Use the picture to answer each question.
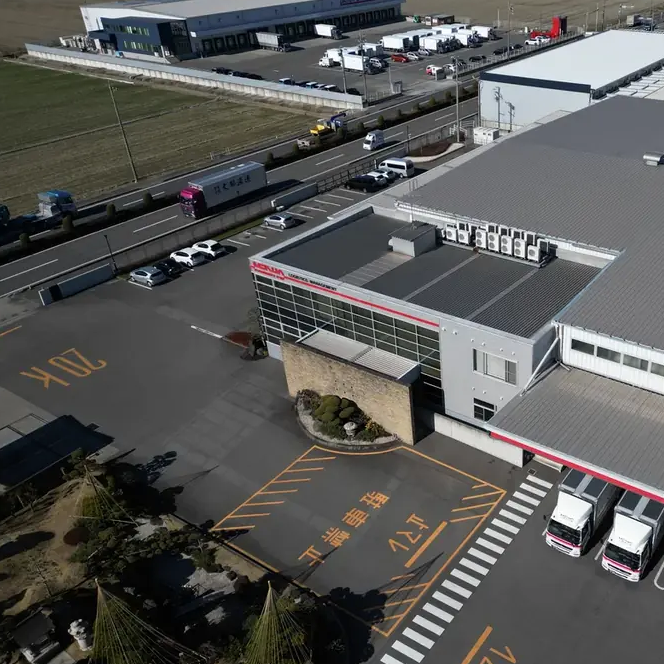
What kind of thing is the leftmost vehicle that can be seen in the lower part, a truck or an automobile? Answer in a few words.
truck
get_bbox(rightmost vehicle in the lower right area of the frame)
[599,491,664,581]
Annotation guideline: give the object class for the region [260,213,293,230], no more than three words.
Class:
car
